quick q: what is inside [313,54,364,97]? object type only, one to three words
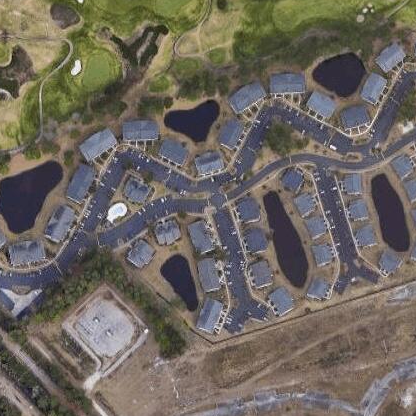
pond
